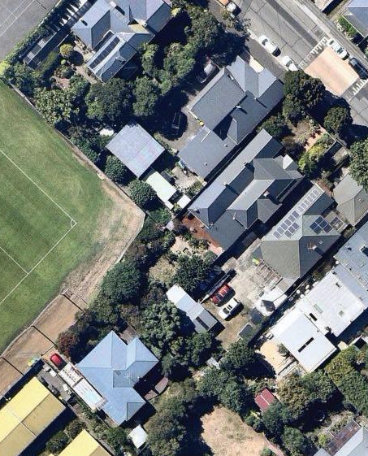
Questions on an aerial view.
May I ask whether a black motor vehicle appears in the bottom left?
No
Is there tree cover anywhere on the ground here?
Yes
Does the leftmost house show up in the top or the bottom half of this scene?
bottom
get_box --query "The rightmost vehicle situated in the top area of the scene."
[348,56,368,81]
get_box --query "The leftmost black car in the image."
[167,108,183,133]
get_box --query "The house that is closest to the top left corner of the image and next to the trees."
[70,0,173,82]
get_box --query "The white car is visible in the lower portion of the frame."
[220,298,240,318]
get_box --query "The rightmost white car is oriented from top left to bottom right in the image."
[327,37,349,61]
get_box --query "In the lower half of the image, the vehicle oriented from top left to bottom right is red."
[47,351,66,370]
